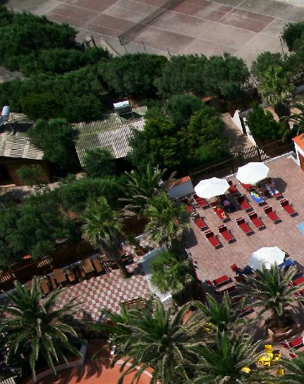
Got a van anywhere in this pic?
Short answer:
No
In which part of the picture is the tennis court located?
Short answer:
top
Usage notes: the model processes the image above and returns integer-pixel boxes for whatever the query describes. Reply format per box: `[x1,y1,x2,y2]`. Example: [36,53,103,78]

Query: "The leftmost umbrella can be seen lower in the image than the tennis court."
[197,177,232,206]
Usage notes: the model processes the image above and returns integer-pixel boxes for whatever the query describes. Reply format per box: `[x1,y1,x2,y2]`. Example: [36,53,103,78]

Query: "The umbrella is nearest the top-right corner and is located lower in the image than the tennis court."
[240,163,274,193]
